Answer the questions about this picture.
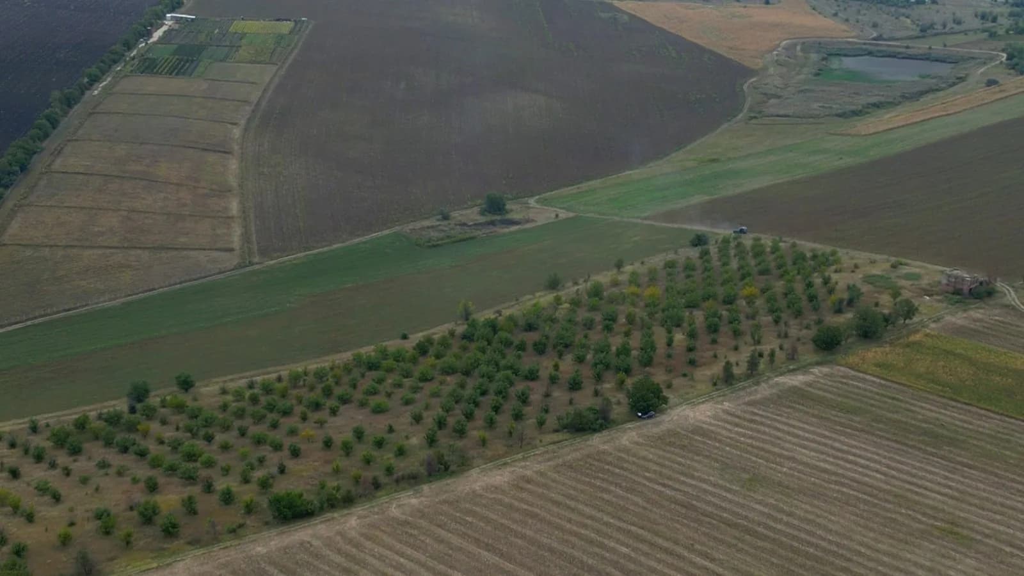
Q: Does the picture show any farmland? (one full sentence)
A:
Yes, farmland shows up in the scene.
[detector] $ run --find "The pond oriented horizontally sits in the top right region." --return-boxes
[820,56,959,81]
